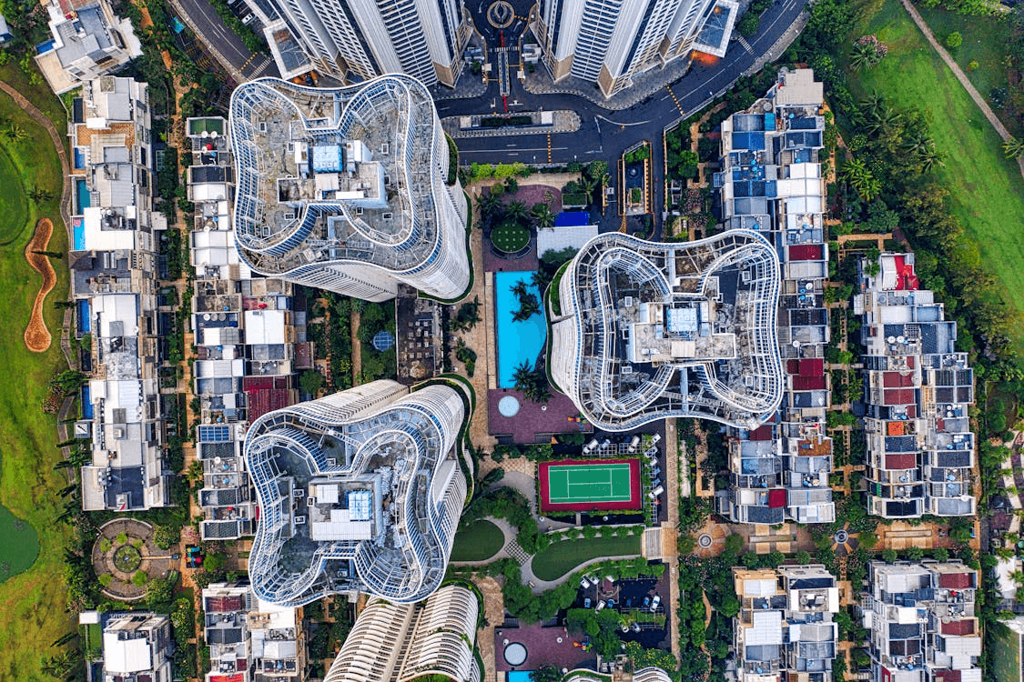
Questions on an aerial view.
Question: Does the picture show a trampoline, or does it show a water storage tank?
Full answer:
This aerial view contains a water storage tank.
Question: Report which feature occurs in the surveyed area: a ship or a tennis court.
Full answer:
There is a tennis court in the scene.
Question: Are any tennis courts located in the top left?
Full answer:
No, looking in the top left, there is no tennis court.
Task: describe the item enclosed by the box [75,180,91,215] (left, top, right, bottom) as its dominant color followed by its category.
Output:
blue swimming pool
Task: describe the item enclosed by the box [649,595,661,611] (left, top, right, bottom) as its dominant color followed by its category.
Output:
white vehicle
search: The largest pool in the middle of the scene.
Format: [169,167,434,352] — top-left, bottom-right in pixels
[496,271,546,387]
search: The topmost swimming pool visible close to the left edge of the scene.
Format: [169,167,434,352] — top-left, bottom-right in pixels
[36,38,58,55]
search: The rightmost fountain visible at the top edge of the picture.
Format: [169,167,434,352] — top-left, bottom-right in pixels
[487,0,514,28]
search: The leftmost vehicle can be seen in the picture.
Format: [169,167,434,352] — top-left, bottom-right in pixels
[241,11,255,25]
